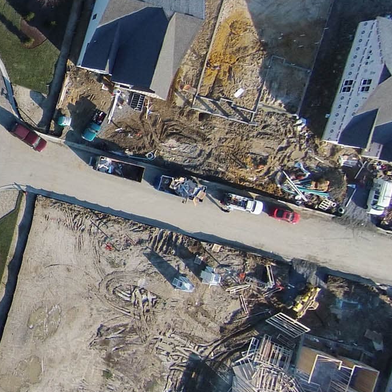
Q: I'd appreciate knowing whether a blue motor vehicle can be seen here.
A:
Yes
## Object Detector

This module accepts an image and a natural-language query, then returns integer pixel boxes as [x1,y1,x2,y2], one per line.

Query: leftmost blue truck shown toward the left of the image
[82,108,109,144]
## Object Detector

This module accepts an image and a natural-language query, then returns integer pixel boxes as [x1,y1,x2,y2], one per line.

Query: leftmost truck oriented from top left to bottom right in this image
[11,122,49,153]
